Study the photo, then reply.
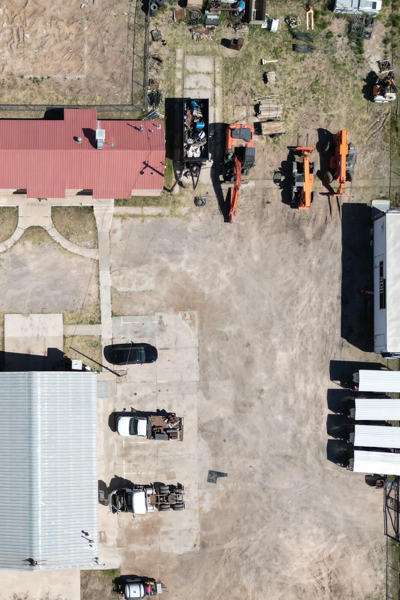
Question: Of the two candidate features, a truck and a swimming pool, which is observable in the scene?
truck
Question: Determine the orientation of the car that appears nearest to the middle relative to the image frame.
from side to side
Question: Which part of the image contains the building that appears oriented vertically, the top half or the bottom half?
bottom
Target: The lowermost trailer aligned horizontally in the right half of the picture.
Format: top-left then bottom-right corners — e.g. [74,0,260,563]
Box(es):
[334,449,400,476]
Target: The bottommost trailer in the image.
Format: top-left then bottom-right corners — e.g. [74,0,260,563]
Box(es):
[118,580,166,600]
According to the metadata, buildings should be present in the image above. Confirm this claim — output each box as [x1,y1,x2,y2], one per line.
[0,108,165,198]
[0,360,102,570]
